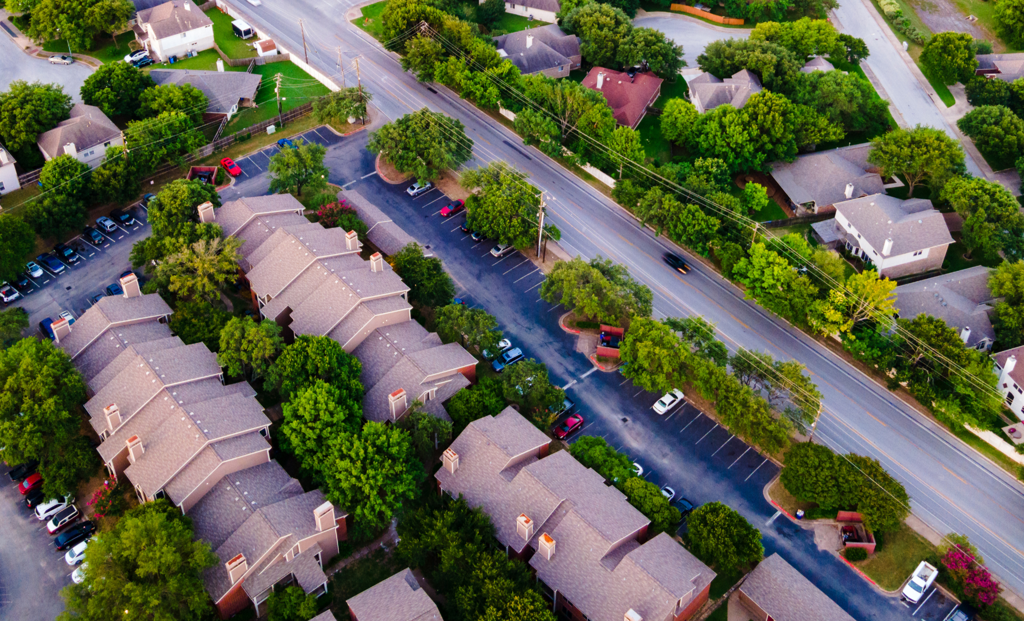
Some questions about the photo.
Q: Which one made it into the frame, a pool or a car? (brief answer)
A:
car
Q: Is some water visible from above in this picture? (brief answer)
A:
No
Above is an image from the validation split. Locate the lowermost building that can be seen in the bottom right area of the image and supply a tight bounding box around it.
[736,554,856,621]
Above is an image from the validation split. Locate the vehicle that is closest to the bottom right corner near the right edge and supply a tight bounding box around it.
[946,601,974,621]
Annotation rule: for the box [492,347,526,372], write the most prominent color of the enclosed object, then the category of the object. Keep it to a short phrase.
blue car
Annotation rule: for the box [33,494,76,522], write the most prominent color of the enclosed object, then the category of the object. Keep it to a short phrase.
white car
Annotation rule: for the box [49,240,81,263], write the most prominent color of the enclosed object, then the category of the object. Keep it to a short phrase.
black truck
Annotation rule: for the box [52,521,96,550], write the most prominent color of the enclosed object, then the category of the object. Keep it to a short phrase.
black car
